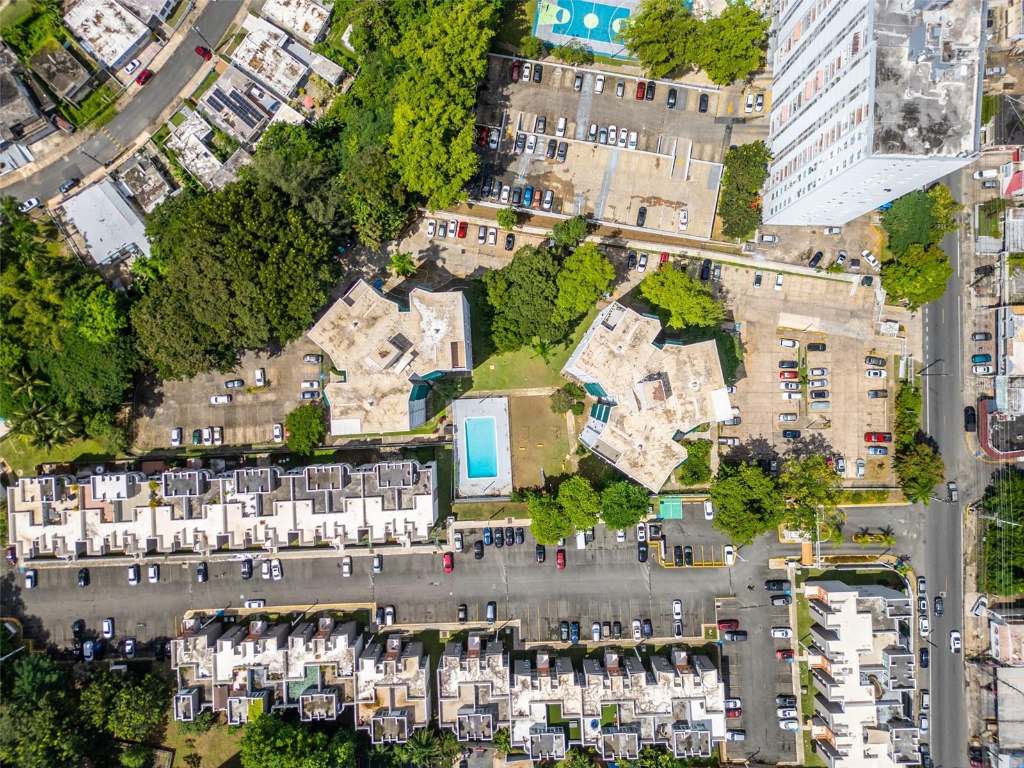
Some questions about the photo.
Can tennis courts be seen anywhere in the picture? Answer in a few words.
No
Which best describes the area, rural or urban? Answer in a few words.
urban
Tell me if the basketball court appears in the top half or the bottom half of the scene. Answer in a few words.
top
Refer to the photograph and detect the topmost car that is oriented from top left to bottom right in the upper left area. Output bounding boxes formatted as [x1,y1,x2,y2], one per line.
[194,45,213,62]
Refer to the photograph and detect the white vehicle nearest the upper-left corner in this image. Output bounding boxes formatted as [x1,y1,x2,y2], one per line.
[124,59,142,75]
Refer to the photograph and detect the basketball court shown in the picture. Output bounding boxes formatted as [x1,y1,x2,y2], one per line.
[521,0,660,64]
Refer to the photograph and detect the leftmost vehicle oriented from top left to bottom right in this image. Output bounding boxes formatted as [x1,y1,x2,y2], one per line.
[52,114,73,132]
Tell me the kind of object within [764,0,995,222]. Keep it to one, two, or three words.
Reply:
building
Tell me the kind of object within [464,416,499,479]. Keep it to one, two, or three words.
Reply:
swimming pool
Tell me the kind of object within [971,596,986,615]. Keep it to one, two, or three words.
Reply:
car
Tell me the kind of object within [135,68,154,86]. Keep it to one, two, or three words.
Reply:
car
